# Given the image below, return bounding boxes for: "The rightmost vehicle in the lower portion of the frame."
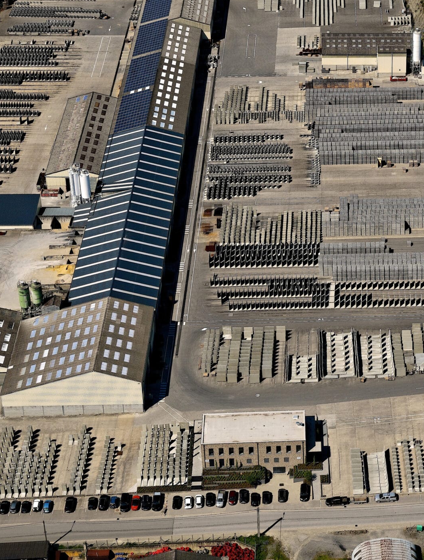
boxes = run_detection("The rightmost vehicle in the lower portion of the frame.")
[374,492,397,504]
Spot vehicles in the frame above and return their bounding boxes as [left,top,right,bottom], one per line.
[299,483,309,504]
[151,492,162,513]
[250,494,259,508]
[325,496,349,507]
[216,493,226,510]
[193,496,203,510]
[8,499,20,516]
[227,493,237,508]
[119,493,130,513]
[41,500,51,515]
[86,497,96,511]
[64,495,75,515]
[374,492,397,504]
[205,494,215,509]
[108,497,118,511]
[183,497,192,511]
[20,501,30,515]
[0,502,10,516]
[130,498,140,513]
[30,500,41,514]
[172,497,182,511]
[239,489,248,506]
[263,492,271,506]
[97,495,109,512]
[142,495,152,512]
[278,488,287,505]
